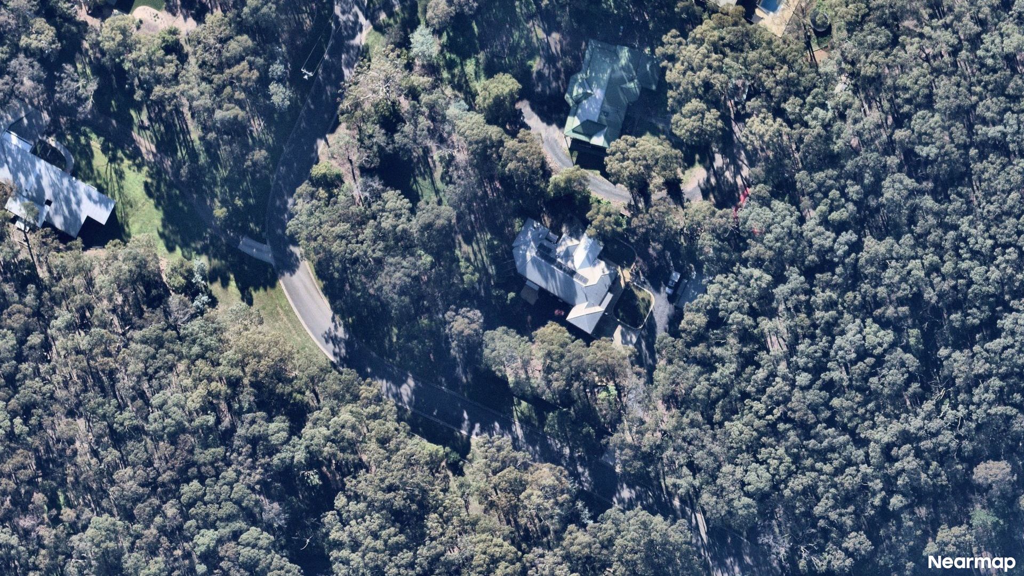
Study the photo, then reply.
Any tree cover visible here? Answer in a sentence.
Yes, tree cover can be seen from above here.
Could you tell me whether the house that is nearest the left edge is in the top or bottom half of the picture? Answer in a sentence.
You can find the house that is nearest the left edge in the top half.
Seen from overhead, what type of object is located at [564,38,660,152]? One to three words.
house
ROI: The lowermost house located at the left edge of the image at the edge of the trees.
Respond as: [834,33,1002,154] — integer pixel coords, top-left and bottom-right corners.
[0,132,115,239]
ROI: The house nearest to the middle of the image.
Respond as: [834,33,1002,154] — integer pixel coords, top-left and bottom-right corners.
[512,217,618,336]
